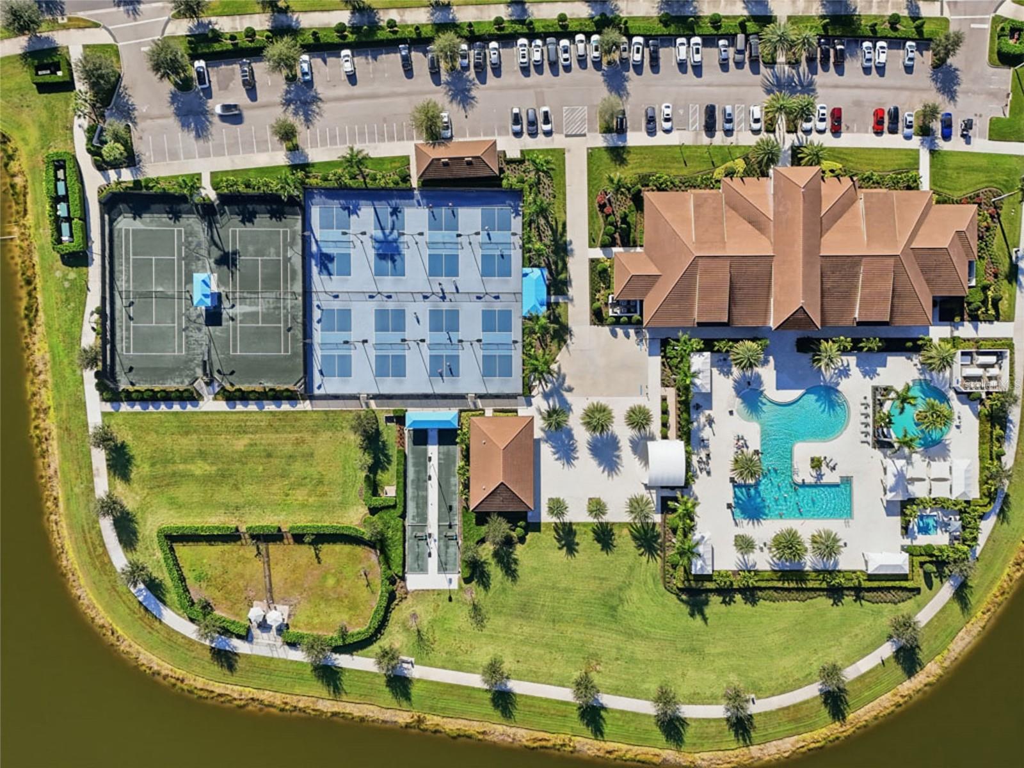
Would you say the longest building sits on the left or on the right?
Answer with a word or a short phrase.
right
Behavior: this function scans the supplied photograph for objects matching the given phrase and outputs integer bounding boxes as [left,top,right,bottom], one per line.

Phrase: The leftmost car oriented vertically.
[194,60,211,89]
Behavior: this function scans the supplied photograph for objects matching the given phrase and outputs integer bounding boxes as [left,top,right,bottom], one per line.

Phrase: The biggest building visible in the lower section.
[470,416,534,511]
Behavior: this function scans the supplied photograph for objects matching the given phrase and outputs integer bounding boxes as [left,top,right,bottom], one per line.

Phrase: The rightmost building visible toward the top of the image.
[614,166,978,330]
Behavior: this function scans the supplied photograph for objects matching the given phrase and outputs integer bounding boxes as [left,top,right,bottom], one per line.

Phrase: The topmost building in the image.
[416,140,498,181]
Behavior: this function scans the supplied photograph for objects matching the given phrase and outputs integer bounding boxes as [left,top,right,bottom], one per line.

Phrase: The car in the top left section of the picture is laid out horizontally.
[215,103,243,117]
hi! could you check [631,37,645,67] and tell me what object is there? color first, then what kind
white car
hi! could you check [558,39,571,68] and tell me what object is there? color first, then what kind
white vehicle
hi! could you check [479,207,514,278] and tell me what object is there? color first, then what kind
blue sports court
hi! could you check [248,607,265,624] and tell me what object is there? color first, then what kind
white umbrella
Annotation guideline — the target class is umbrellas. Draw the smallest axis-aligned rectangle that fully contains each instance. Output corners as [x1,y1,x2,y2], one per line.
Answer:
[248,607,265,624]
[946,519,963,534]
[265,610,282,627]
